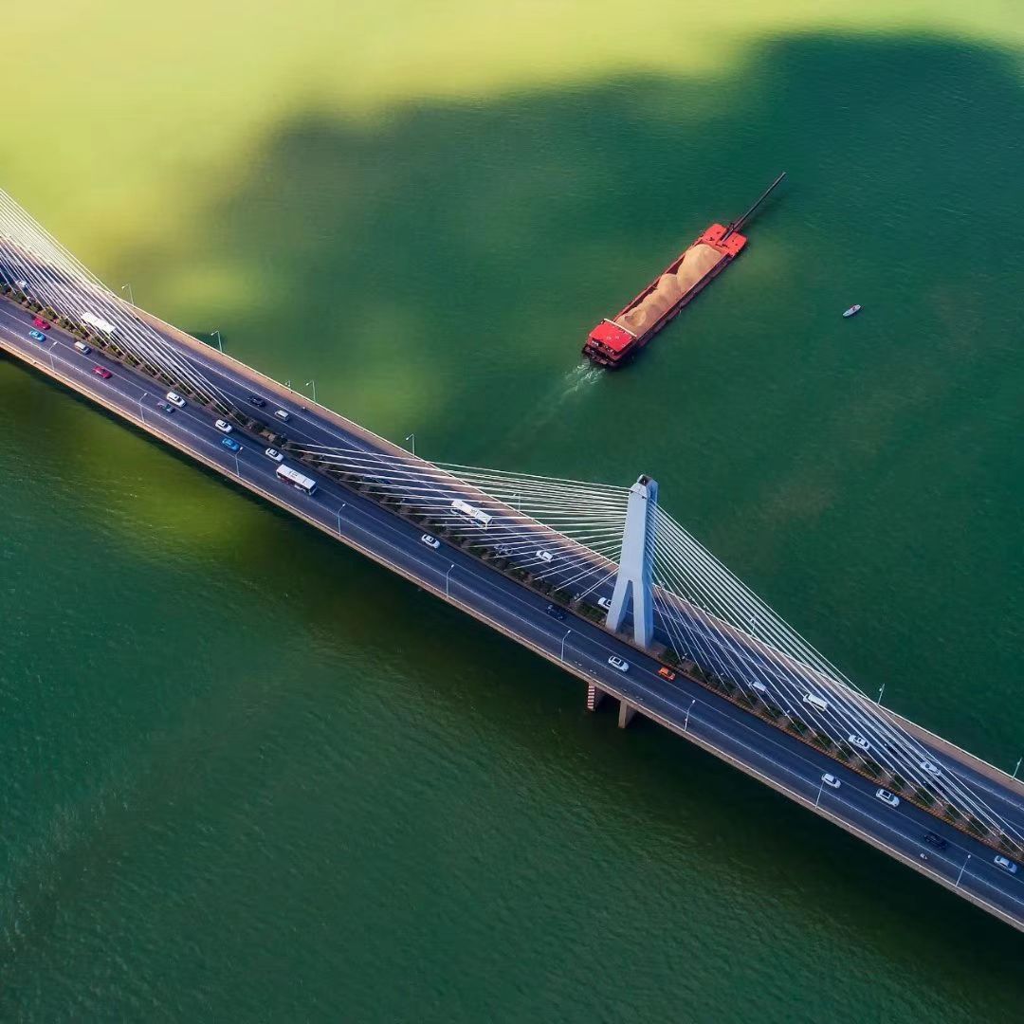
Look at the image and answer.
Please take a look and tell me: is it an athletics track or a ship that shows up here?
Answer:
ship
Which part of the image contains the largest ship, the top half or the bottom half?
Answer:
top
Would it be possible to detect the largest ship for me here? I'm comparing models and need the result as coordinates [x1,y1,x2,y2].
[584,169,786,371]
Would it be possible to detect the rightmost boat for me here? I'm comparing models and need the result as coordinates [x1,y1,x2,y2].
[841,304,860,318]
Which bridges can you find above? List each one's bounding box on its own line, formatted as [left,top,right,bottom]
[0,181,1024,933]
